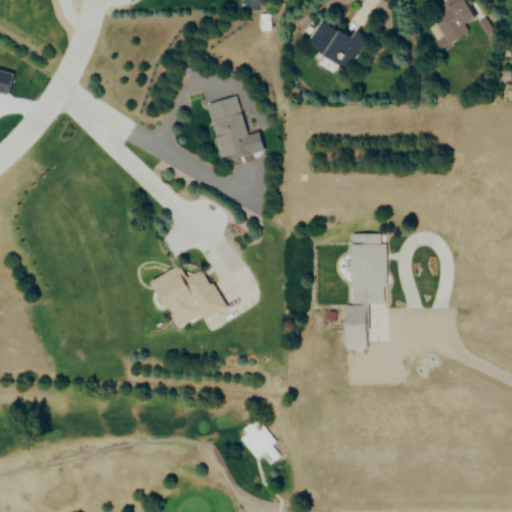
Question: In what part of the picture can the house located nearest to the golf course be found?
bottom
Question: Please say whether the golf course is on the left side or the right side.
left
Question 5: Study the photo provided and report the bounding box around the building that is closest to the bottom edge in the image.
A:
[241,422,282,465]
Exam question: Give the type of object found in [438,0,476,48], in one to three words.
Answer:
house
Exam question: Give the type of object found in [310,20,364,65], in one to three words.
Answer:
house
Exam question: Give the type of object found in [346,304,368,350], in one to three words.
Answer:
building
